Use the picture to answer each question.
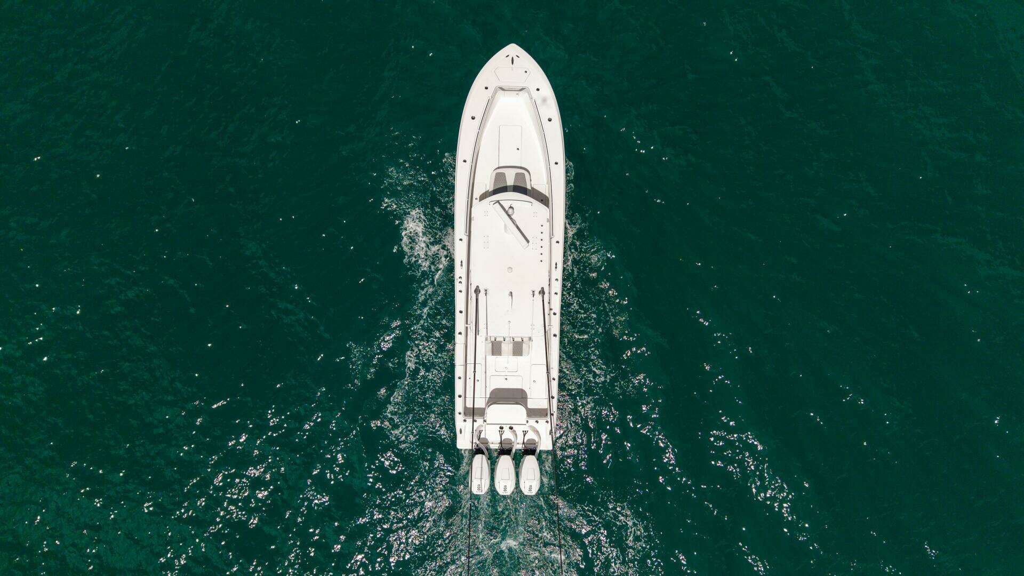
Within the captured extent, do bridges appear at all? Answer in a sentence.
No, the frame has no bridge in it.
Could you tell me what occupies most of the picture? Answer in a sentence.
For the most part, this view shows water.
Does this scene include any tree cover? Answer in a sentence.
No, there is no tree cover in the image.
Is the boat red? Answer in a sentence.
No, the boat is white.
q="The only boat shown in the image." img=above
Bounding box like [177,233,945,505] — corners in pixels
[454,43,565,576]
